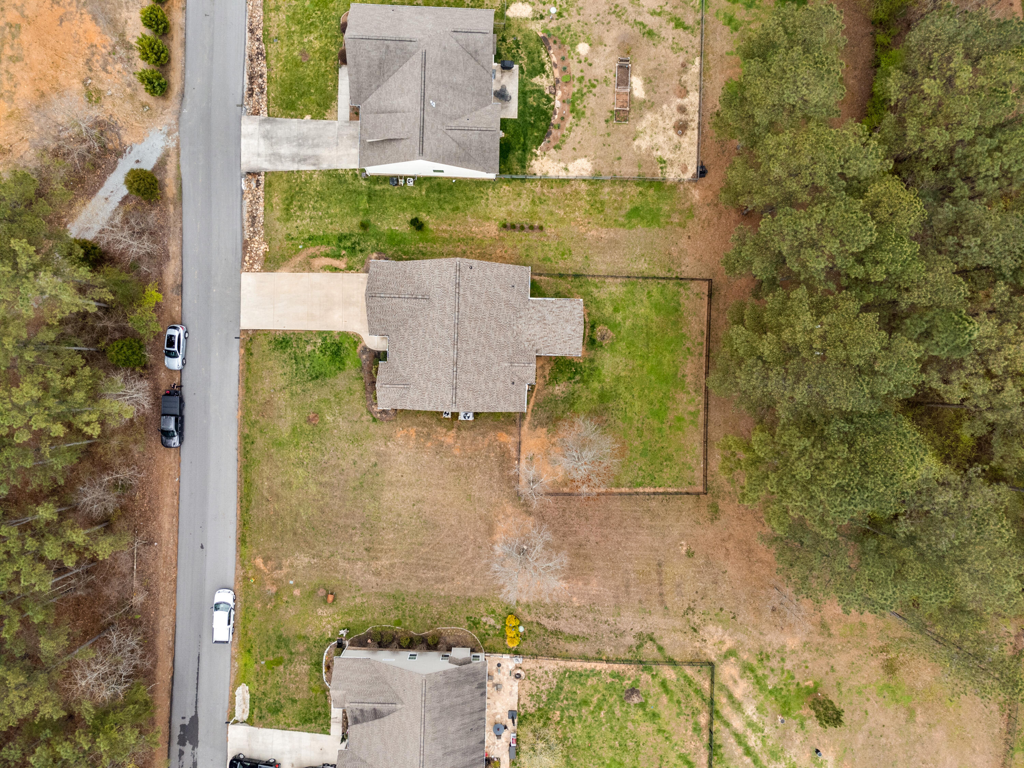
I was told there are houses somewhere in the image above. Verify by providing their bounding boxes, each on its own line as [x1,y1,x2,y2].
[365,258,583,412]
[329,645,489,768]
[346,3,503,183]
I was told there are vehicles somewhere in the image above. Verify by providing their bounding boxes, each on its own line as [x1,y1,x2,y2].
[161,325,189,371]
[210,588,236,646]
[158,388,186,449]
[227,756,280,768]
